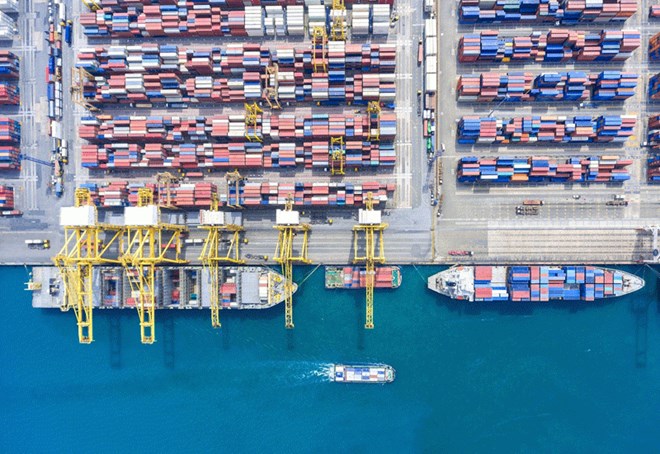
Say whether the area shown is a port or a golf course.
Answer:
port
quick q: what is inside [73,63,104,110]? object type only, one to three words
container crane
